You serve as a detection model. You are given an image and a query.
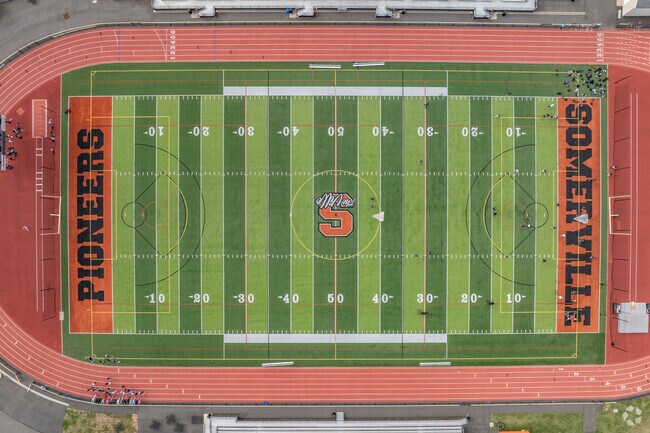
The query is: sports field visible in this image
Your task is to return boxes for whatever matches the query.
[62,62,606,366]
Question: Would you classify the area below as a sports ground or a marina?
sports ground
